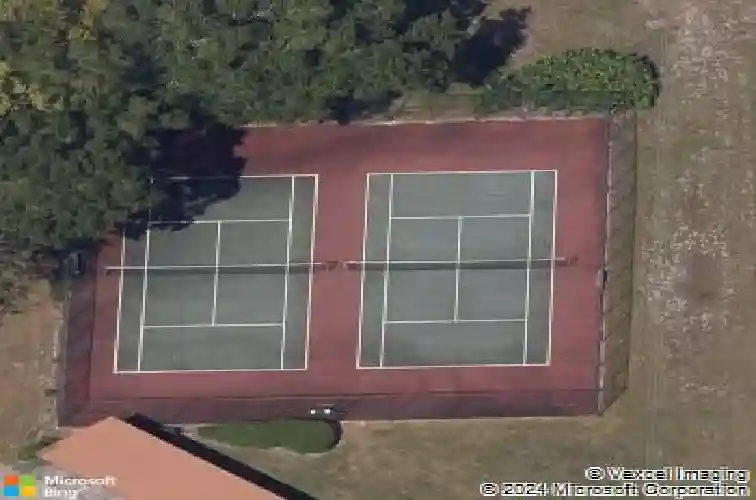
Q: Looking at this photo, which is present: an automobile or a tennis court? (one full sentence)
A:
The one in the frame is a tennis court.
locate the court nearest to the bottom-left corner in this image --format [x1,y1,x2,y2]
[114,175,317,371]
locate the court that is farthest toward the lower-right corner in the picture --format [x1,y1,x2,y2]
[357,171,554,368]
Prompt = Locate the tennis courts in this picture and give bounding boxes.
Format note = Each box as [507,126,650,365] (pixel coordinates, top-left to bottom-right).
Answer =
[114,175,317,371]
[357,171,554,368]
